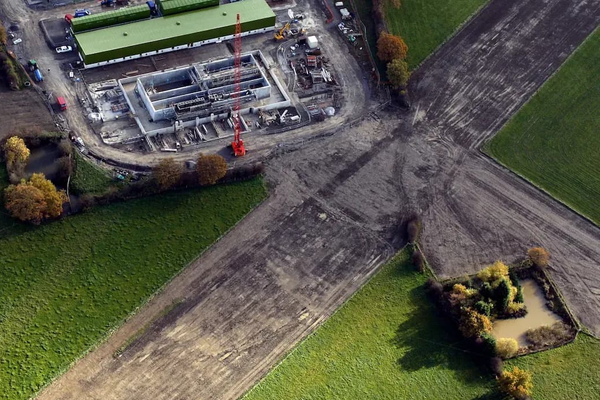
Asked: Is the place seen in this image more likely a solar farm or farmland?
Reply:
farmland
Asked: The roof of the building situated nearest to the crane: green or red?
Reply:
green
